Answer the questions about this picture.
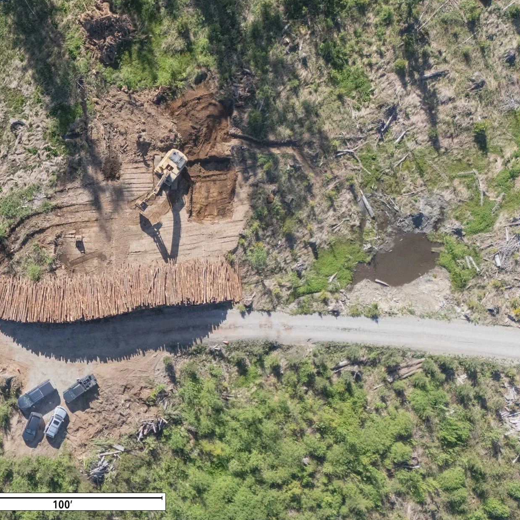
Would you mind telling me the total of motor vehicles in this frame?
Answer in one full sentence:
I count 5 motor vehicles.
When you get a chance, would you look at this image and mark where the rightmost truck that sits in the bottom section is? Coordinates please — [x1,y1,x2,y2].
[62,372,100,403]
